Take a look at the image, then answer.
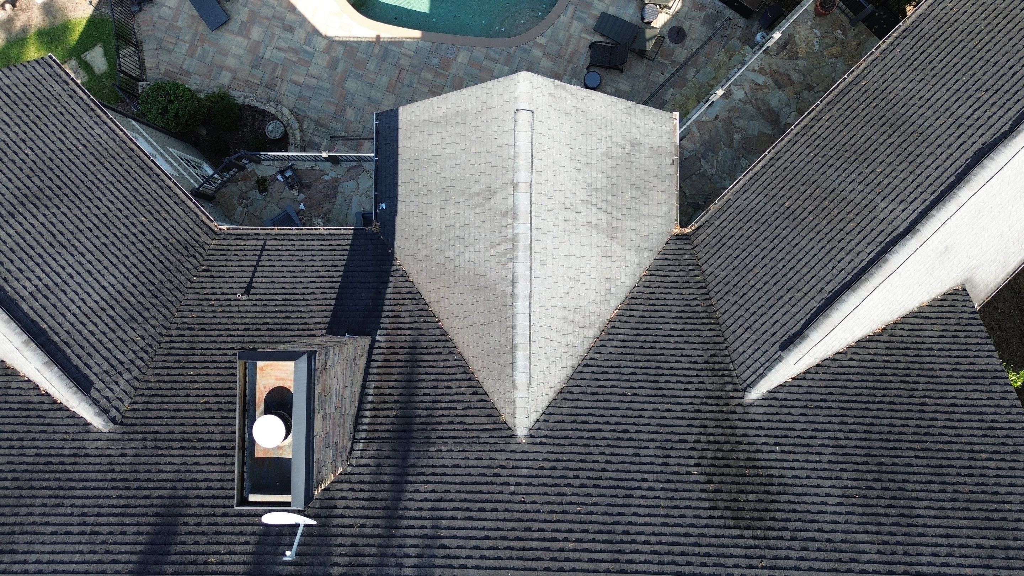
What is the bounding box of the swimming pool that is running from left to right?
[348,0,558,37]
